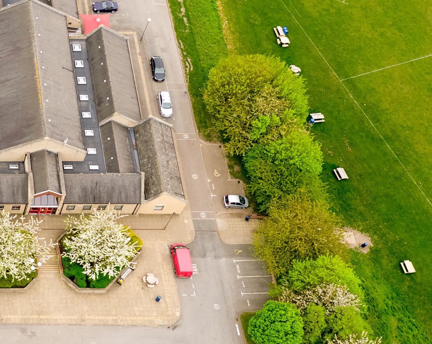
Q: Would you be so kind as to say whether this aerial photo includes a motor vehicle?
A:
Yes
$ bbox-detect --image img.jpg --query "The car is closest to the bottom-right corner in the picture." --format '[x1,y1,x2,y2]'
[222,194,249,209]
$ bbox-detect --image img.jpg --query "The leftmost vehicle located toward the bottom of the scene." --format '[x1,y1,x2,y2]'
[171,244,193,278]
